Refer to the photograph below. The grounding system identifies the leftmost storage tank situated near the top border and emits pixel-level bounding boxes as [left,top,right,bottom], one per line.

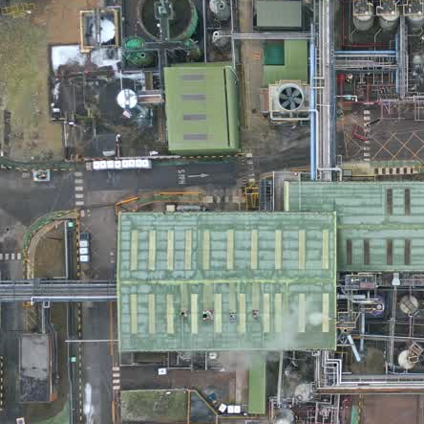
[80,10,122,56]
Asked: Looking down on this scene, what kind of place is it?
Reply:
industrial area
